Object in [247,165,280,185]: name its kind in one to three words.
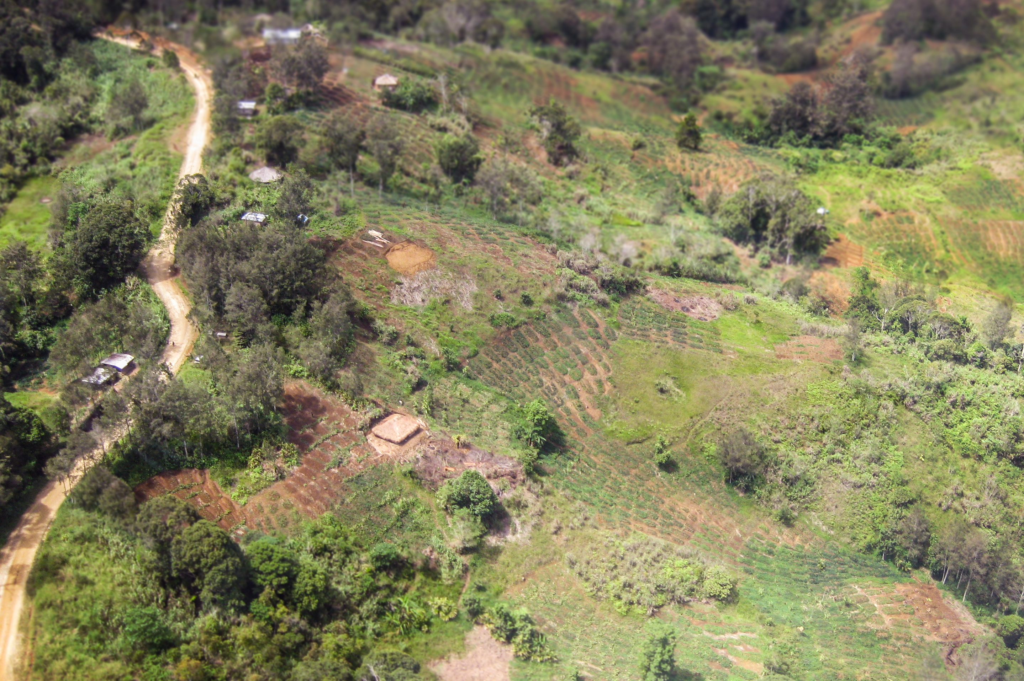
shed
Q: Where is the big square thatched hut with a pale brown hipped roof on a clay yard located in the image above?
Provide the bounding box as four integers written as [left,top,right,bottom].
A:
[371,414,422,450]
